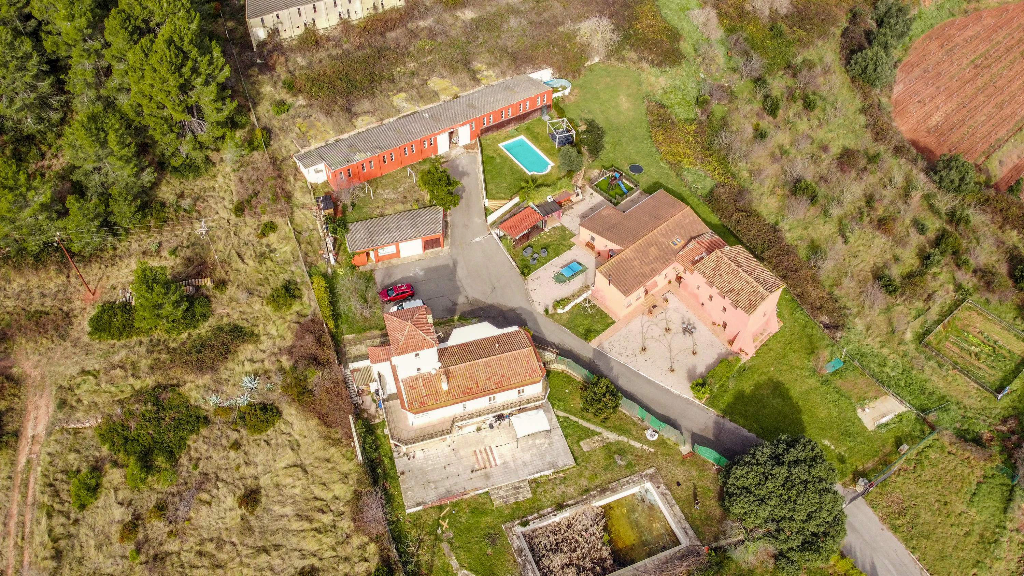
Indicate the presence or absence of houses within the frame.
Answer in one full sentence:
Yes, I can see a house in this picture.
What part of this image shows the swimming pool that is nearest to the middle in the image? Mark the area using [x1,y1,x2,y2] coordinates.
[500,135,553,175]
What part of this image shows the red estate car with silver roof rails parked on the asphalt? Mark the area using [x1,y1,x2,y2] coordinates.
[379,282,416,305]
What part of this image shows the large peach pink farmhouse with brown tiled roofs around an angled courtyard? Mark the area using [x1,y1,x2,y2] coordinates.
[577,188,789,359]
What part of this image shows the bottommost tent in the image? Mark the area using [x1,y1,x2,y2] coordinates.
[509,408,551,441]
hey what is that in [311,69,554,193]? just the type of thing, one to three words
building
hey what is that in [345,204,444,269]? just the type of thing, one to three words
building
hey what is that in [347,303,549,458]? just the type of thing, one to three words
house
